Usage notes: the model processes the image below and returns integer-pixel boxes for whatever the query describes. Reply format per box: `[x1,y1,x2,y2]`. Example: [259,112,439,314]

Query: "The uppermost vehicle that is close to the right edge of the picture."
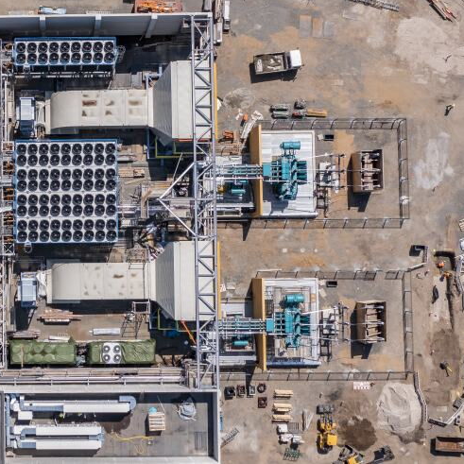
[435,259,450,275]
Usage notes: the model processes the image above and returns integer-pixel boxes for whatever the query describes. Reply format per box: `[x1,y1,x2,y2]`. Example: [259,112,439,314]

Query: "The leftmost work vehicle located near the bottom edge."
[316,404,340,453]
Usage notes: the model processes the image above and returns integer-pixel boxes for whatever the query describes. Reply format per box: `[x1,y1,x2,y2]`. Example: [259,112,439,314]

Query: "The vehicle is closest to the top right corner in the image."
[249,52,303,77]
